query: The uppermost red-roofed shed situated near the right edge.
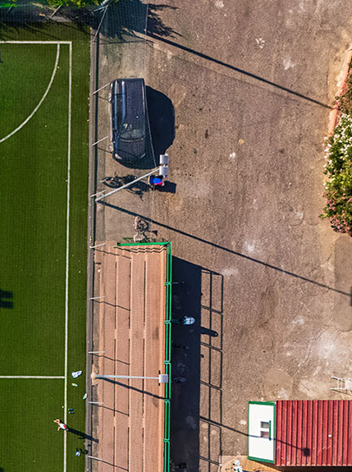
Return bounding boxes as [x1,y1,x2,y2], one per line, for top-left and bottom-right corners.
[248,402,352,465]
